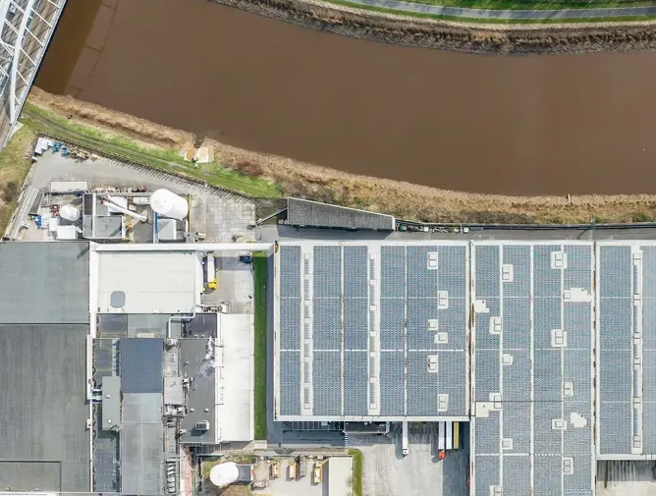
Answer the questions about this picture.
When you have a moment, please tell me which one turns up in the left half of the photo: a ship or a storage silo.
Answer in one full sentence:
There is a storage silo in the left half of the photo.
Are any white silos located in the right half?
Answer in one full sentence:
No, I see no white silo in the right half.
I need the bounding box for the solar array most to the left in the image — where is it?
[280,246,301,413]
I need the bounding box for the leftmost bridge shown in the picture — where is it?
[0,0,67,177]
